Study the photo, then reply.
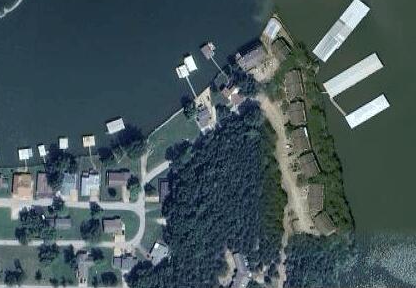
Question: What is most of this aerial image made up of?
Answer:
water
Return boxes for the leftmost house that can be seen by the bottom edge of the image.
[78,254,95,287]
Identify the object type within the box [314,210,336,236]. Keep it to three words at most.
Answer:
building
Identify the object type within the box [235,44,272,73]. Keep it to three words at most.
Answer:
building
